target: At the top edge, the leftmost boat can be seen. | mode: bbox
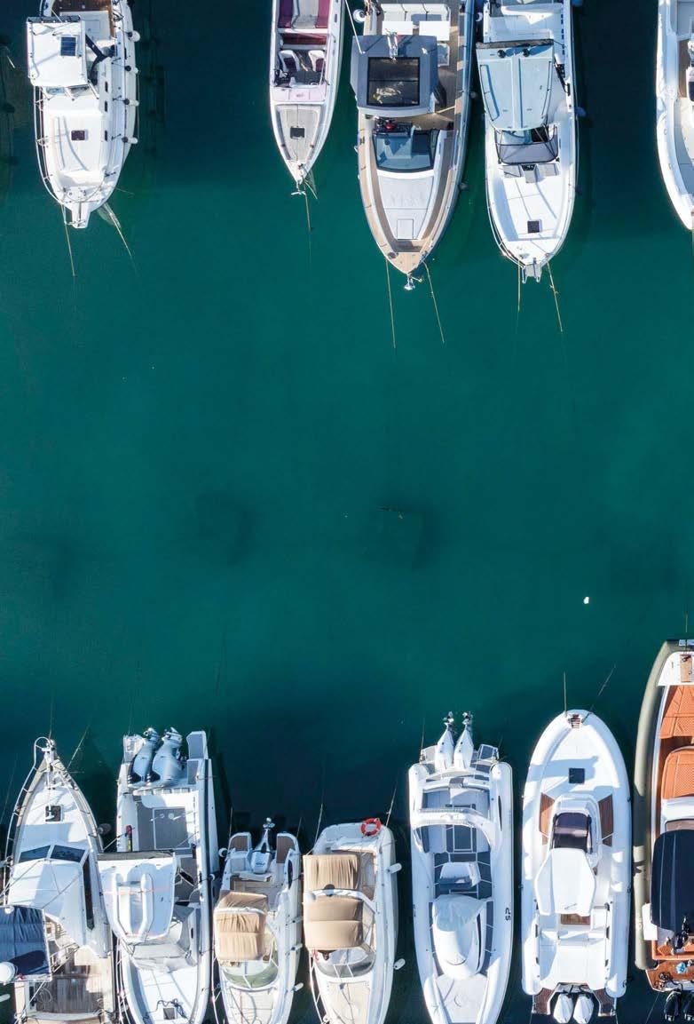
[28,0,138,233]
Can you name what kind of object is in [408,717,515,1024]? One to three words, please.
boat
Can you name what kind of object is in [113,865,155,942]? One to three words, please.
boat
